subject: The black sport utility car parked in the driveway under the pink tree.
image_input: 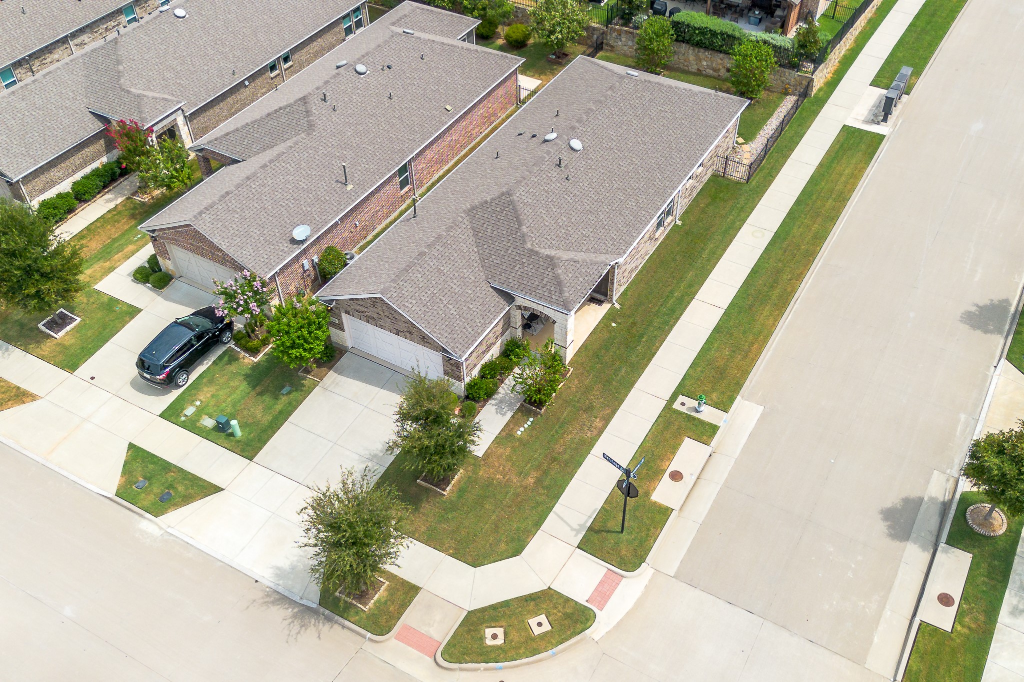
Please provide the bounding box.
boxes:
[129,304,235,389]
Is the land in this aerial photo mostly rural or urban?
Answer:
urban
